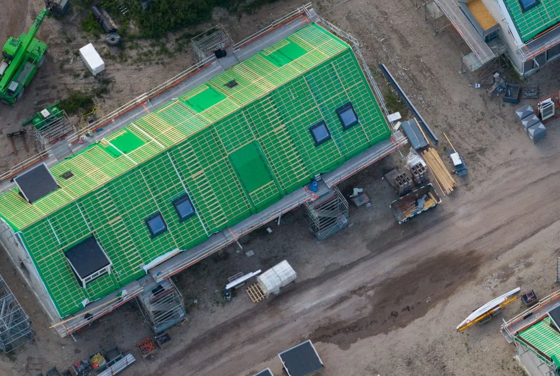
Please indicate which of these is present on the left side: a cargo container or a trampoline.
cargo container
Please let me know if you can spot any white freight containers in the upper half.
Yes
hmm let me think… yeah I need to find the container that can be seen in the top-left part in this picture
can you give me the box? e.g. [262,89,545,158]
[78,44,106,76]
